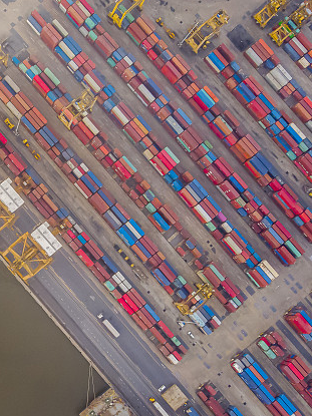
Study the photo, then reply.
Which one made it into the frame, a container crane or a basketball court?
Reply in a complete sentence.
There is a container crane in the scene.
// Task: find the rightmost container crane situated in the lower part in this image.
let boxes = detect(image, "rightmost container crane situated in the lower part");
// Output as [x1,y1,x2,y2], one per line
[166,278,211,315]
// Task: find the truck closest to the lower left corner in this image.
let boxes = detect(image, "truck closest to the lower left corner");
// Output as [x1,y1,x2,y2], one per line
[99,314,121,336]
